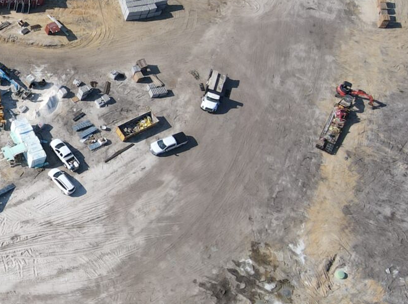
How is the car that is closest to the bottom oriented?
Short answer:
diagonally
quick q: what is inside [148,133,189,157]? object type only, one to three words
truck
